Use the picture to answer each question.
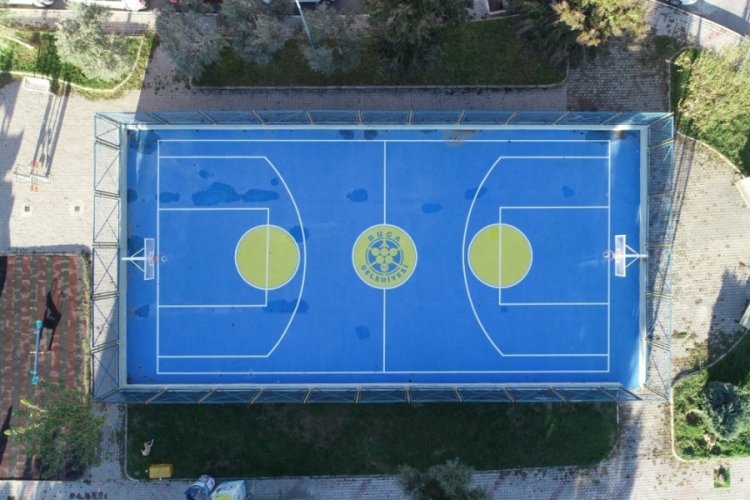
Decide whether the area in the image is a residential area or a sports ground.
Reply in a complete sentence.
It's a sports ground.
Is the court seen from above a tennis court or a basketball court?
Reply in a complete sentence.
The court is a basketball court.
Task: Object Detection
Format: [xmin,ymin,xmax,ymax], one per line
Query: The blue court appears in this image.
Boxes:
[126,130,639,385]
